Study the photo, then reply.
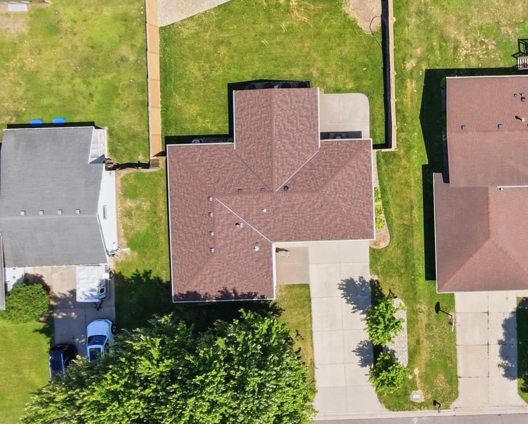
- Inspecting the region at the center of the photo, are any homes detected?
Yes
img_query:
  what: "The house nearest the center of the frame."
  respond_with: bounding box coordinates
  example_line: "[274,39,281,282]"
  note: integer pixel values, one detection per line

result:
[166,87,376,302]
